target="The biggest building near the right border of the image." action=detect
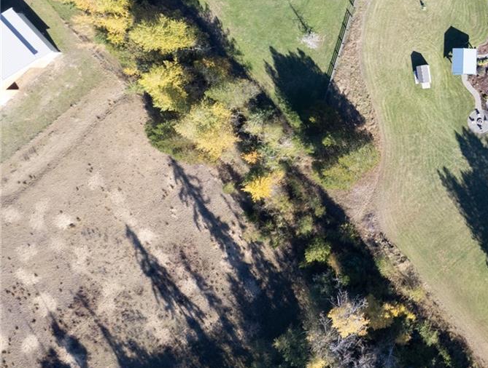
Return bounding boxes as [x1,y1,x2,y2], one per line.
[453,48,477,74]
